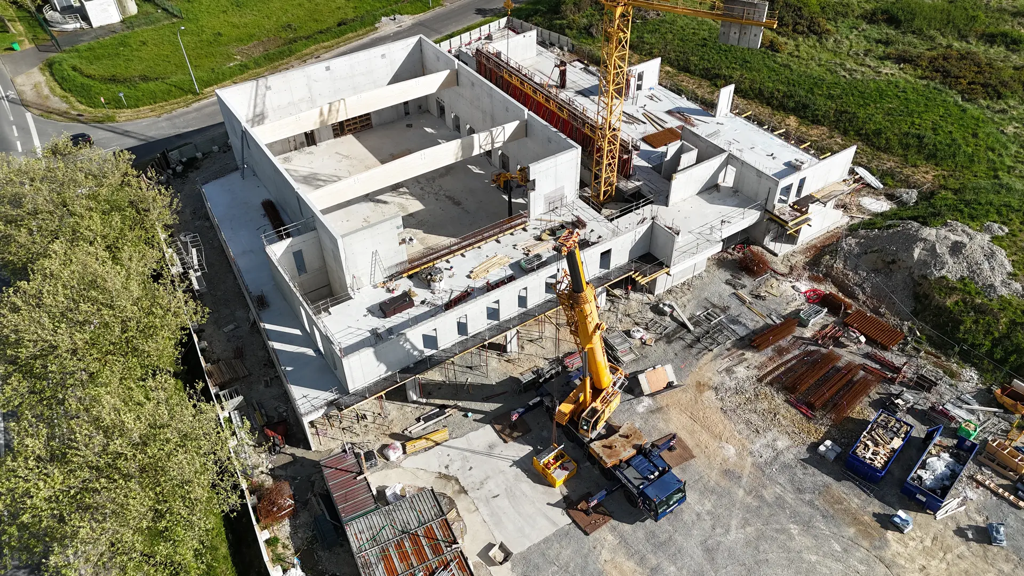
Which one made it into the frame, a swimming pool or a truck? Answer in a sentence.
The image shows a truck.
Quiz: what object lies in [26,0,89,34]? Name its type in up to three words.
house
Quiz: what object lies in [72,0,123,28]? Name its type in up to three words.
shed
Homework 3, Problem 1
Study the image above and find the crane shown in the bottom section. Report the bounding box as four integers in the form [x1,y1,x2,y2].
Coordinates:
[509,235,693,524]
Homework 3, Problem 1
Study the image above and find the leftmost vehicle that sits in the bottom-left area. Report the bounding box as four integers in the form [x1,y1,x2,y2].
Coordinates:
[245,411,299,456]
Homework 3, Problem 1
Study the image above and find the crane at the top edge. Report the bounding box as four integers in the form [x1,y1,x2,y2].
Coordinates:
[564,0,772,214]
